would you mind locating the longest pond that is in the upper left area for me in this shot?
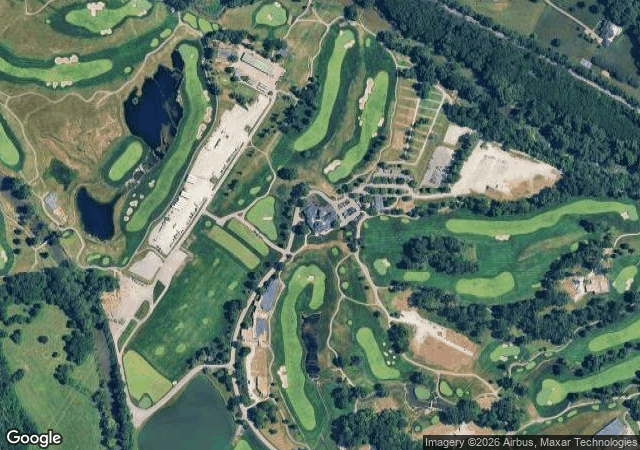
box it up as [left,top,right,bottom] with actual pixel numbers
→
[122,49,183,153]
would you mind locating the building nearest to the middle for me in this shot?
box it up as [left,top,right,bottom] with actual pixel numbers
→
[306,195,338,235]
